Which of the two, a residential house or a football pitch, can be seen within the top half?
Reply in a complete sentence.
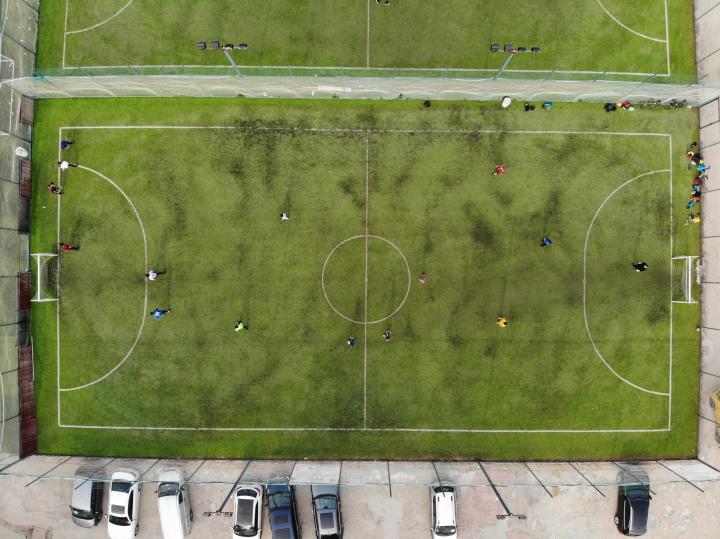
You can see a football pitch within the top half.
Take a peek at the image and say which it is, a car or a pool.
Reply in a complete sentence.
The one in the frame is a car.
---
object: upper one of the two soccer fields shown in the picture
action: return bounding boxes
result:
[34,0,700,106]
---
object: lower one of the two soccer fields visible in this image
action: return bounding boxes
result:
[34,97,700,459]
